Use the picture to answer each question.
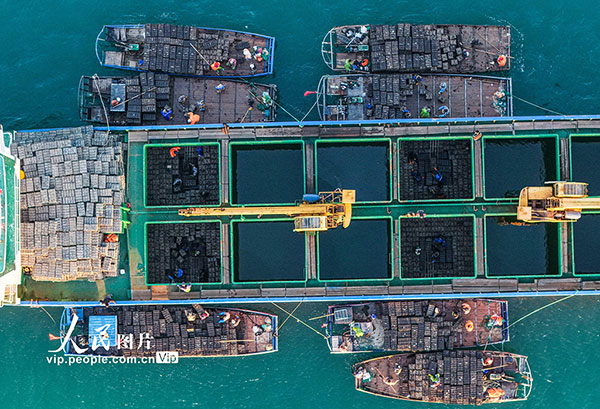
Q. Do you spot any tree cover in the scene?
No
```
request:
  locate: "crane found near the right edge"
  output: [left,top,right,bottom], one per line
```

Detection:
[516,180,600,224]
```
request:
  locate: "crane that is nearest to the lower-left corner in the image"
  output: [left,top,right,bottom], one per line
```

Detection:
[178,189,357,231]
